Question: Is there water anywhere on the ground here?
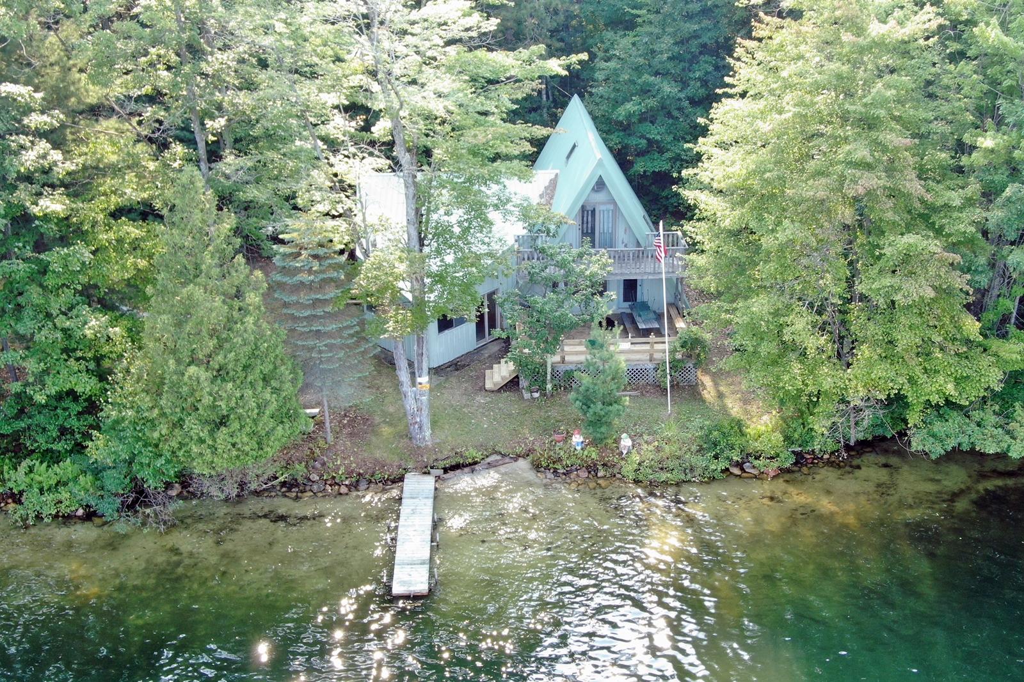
Yes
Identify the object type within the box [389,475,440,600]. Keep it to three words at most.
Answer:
pier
